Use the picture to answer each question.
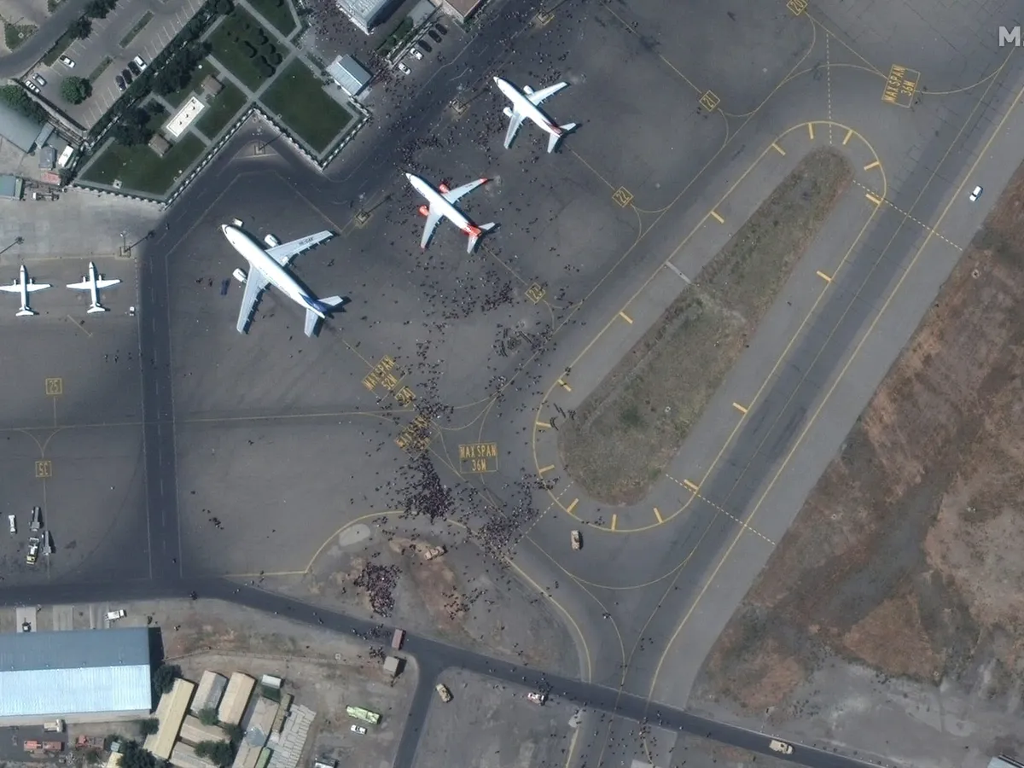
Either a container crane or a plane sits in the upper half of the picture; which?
plane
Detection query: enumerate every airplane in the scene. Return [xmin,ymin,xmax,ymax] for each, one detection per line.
[493,77,576,151]
[406,173,498,251]
[222,224,344,335]
[66,262,120,313]
[0,266,50,316]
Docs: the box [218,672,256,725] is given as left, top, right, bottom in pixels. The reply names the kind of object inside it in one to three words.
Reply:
shed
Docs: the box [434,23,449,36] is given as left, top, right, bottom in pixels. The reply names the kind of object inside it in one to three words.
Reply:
vehicle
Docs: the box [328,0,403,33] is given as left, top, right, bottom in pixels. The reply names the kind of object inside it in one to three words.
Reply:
building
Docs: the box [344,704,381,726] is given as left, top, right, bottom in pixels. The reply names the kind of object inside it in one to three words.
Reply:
truck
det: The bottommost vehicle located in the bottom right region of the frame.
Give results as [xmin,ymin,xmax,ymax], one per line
[768,740,792,754]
